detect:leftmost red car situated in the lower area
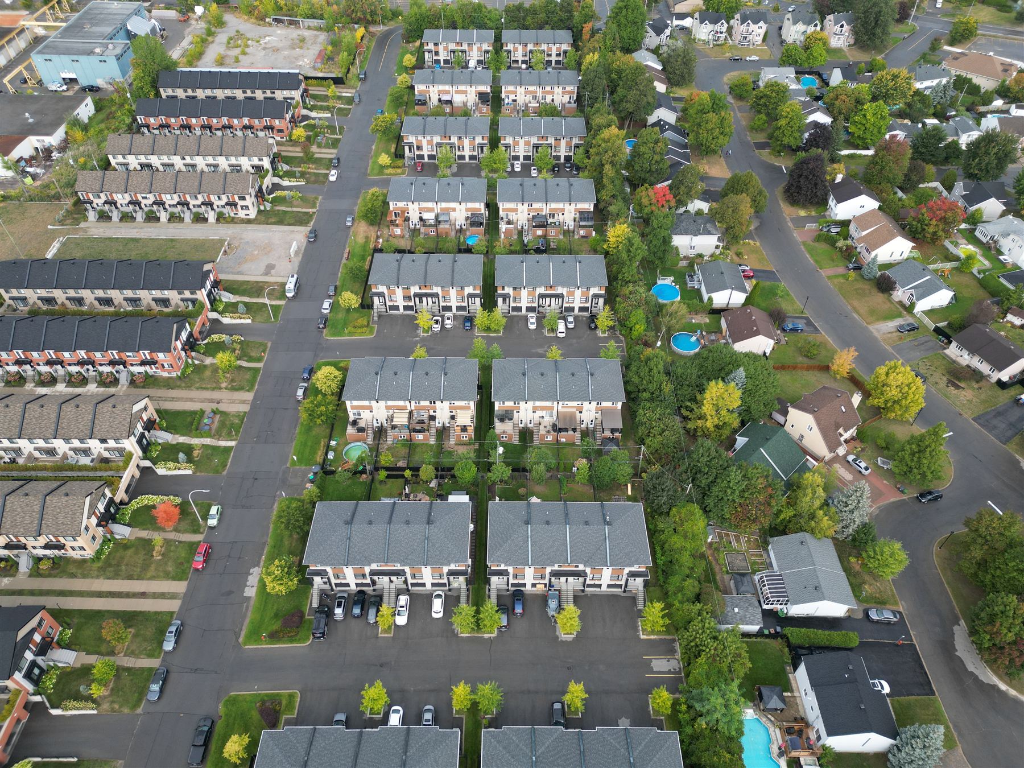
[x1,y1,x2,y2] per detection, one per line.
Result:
[193,543,212,570]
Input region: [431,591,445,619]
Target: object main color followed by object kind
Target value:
white car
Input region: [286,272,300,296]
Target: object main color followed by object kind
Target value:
white vehicle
